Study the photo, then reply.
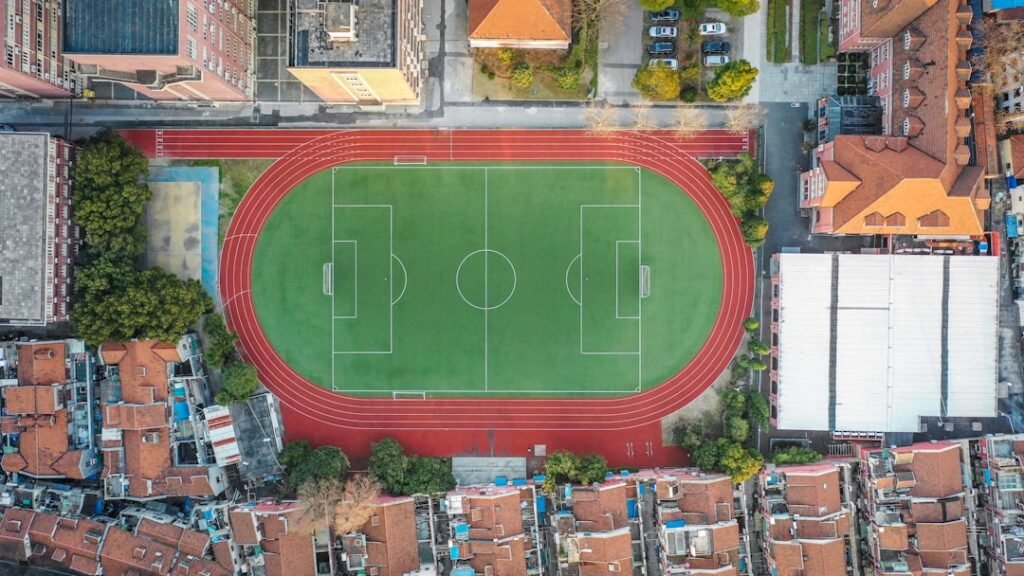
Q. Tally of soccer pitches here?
1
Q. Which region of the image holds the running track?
center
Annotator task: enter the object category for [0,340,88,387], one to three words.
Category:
house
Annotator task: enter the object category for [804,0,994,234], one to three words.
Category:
building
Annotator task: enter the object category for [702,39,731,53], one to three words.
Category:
car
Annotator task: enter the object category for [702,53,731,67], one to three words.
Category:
car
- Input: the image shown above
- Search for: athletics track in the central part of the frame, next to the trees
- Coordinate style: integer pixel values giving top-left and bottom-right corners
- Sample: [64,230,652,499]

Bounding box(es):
[120,129,757,474]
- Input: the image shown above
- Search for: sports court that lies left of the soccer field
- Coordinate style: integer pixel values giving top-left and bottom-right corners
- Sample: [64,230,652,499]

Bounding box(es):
[112,167,219,298]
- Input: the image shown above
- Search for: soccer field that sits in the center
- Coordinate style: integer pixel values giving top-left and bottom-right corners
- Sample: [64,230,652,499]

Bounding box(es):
[252,161,722,398]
